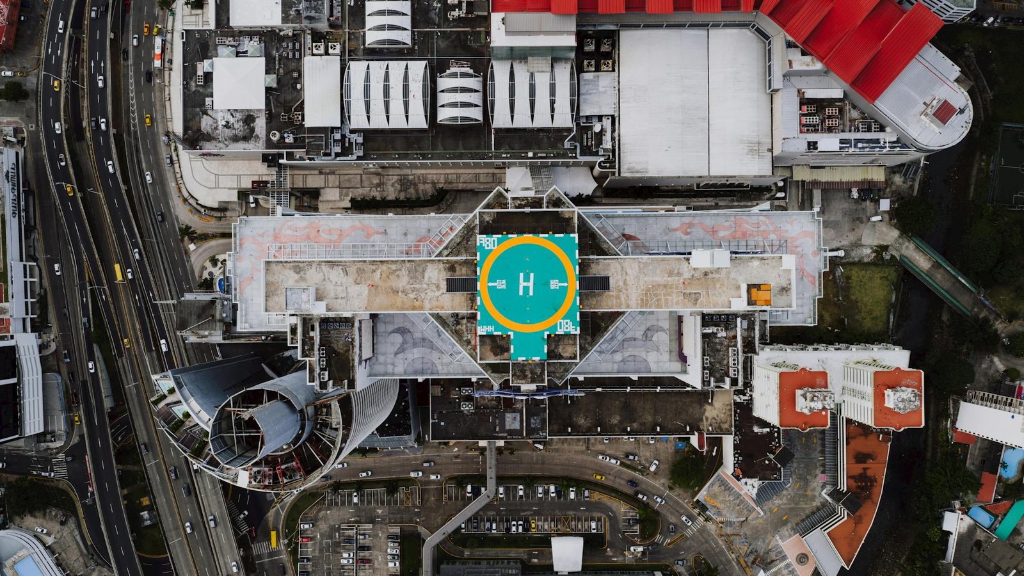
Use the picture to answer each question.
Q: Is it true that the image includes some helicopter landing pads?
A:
Yes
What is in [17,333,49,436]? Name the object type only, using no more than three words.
building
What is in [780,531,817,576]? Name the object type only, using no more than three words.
building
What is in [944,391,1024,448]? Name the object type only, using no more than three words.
house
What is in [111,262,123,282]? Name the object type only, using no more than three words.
vehicle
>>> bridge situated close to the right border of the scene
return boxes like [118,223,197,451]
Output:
[883,230,997,326]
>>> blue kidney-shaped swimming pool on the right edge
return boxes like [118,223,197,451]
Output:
[998,446,1024,480]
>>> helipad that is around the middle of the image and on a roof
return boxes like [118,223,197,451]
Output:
[446,231,609,363]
